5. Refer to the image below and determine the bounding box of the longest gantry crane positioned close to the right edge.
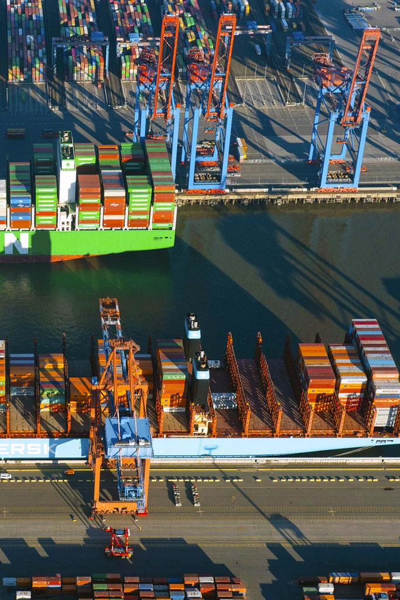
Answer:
[305,25,388,188]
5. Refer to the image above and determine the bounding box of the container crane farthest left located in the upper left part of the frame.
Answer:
[52,32,116,78]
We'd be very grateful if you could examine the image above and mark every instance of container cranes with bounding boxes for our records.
[133,13,183,188]
[114,36,168,77]
[52,32,116,78]
[305,25,388,188]
[222,20,277,59]
[82,297,158,519]
[179,13,239,189]
[282,27,345,74]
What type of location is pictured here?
port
